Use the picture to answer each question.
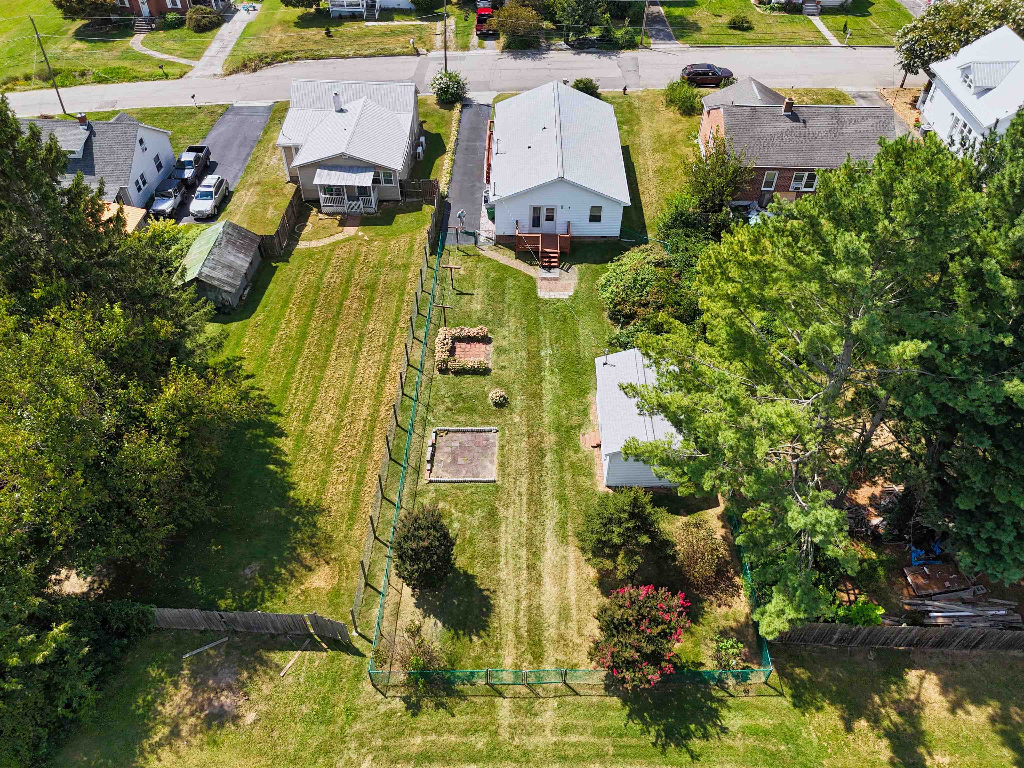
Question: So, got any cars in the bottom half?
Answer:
No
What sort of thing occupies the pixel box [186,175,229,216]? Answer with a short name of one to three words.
car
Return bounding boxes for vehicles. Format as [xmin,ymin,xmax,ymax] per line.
[186,175,229,216]
[166,148,210,186]
[140,179,186,223]
[477,4,501,32]
[683,61,741,88]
